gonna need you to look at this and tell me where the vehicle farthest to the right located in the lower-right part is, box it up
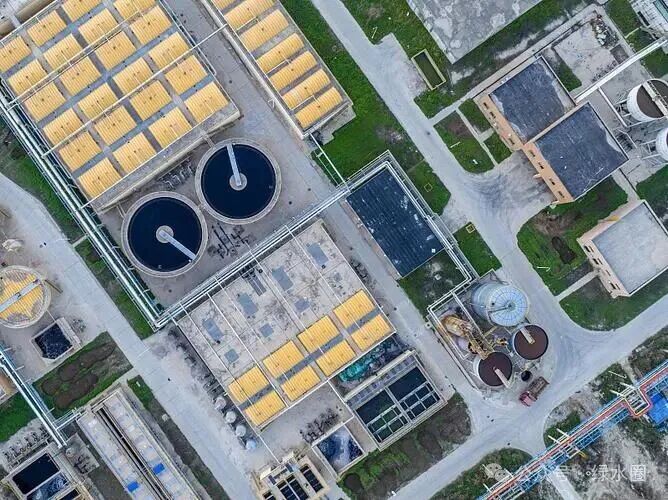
[521,378,553,409]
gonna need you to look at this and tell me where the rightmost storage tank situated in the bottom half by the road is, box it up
[506,321,549,360]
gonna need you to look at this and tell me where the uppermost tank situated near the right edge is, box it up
[610,77,668,127]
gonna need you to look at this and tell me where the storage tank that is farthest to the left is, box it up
[0,265,57,328]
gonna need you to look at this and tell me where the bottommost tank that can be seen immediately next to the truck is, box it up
[472,348,512,392]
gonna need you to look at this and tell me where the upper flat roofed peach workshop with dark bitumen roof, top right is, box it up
[481,56,585,149]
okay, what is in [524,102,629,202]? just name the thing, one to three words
building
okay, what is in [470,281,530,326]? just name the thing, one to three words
storage tank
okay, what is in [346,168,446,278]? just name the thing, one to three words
shed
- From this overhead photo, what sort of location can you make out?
industrial area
